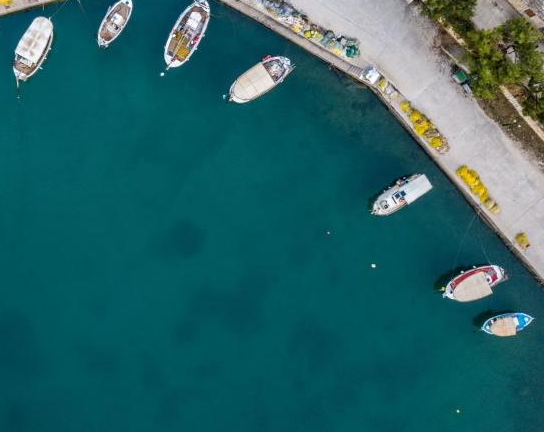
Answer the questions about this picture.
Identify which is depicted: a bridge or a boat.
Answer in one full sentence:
The image shows a boat.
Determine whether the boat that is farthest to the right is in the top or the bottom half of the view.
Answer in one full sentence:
You can find the boat that is farthest to the right in the bottom half.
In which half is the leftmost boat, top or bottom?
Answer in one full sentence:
The top half of the photo is where the leftmost boat is.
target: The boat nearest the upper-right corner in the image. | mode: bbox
[369,172,431,217]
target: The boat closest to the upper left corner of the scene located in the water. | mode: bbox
[14,15,53,90]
